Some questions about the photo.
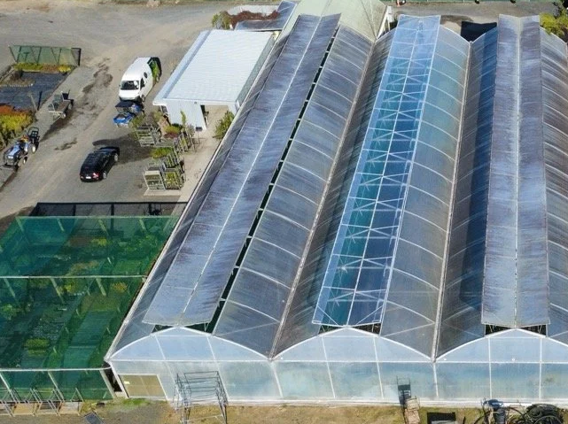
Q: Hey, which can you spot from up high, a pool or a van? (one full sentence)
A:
The image shows a van.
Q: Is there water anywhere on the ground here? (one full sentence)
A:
No, there is no water in the image.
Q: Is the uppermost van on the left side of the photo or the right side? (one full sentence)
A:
The uppermost van appears in the left half of the scene.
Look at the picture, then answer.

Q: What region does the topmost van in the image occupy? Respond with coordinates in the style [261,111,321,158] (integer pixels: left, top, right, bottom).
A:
[118,53,159,101]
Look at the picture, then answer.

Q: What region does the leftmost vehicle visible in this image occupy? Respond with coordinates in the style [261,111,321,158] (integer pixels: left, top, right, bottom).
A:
[0,128,34,173]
